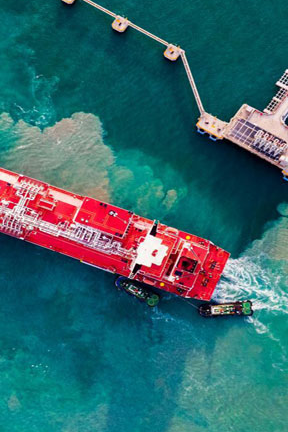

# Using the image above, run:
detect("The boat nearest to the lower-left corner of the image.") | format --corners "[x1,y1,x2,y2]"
[115,278,157,307]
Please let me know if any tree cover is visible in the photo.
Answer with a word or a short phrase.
No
